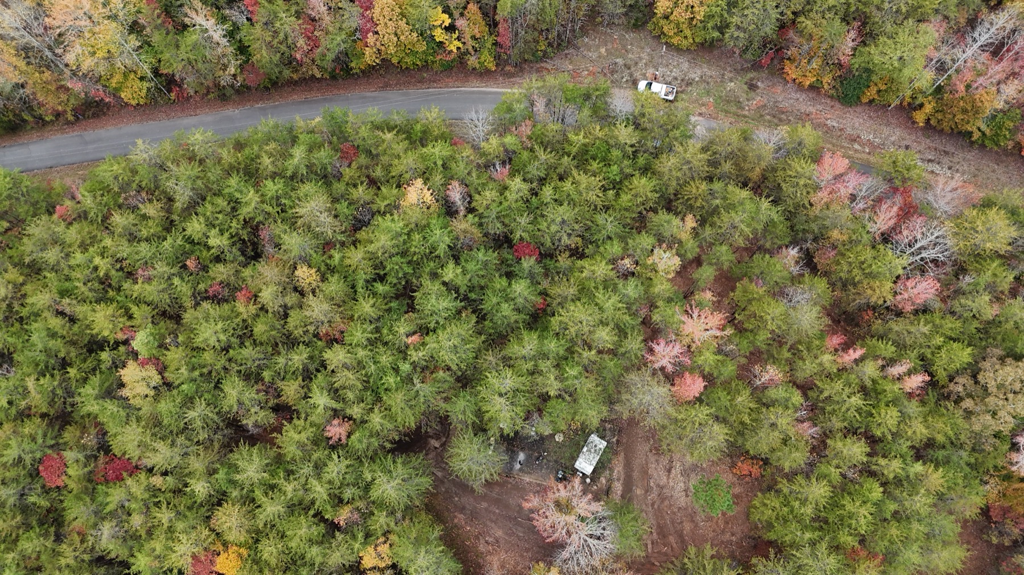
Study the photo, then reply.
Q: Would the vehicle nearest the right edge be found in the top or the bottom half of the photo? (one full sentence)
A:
The vehicle nearest the right edge is in the top half of the image.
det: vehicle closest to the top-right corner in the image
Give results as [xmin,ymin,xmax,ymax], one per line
[636,79,677,99]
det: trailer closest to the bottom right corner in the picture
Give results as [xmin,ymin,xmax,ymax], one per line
[574,434,606,478]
